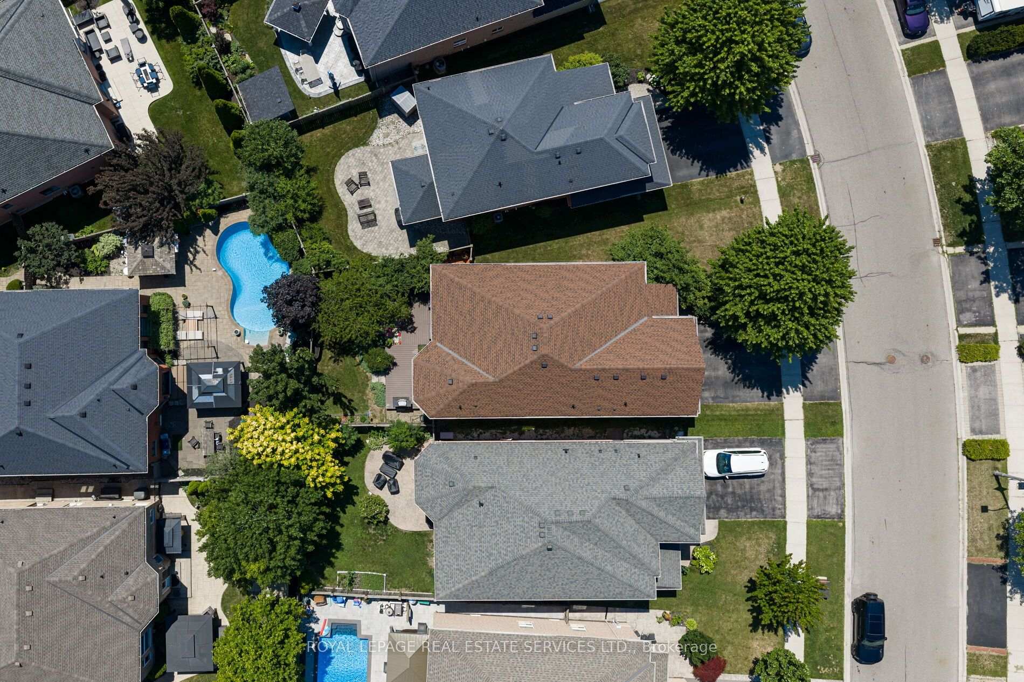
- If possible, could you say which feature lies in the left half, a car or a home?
home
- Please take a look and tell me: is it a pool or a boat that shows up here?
pool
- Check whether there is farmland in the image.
No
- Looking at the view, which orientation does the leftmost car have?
horizontally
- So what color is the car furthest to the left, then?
white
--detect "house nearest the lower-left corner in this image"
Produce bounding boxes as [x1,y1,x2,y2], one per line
[0,497,178,682]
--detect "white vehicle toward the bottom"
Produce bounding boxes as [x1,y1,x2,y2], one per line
[705,448,767,480]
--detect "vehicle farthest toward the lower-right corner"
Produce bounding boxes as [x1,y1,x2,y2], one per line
[849,594,887,662]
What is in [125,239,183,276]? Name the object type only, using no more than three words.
gazebo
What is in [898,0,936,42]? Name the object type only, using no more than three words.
car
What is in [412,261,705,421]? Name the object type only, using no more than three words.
house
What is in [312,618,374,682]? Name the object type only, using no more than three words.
swimming pool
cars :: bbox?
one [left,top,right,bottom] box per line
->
[898,0,936,42]
[705,448,767,480]
[781,0,819,62]
[849,594,887,662]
